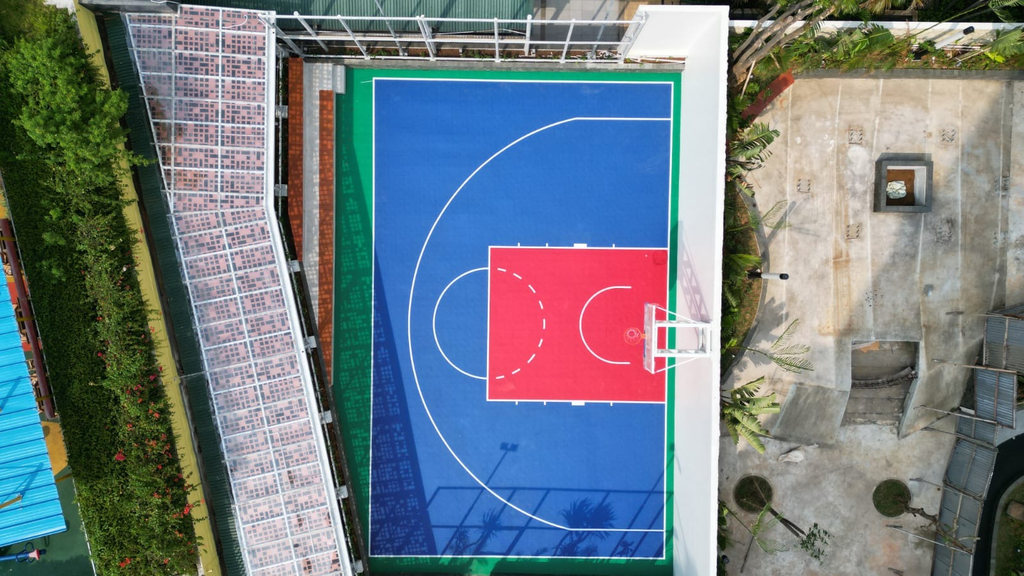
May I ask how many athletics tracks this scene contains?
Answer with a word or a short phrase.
0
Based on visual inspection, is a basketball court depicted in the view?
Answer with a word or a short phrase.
Yes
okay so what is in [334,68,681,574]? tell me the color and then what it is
blue basketball court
